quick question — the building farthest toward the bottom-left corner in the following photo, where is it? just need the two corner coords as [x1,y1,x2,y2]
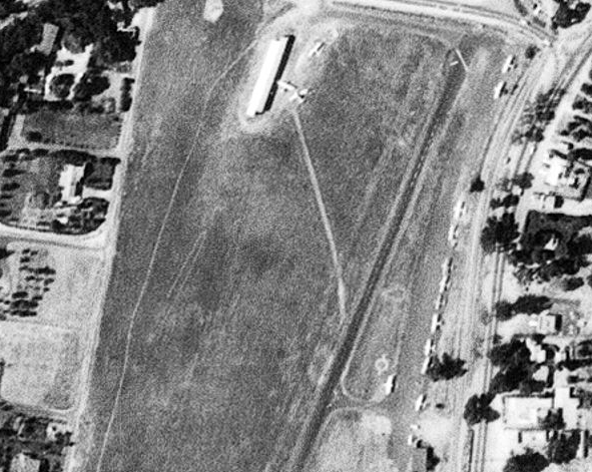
[10,453,39,472]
